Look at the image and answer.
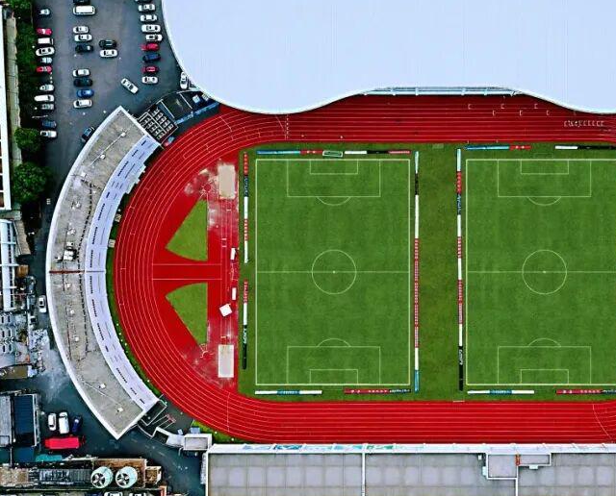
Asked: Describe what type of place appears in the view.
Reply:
sports ground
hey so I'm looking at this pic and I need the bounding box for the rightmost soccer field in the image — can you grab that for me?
[464,157,616,388]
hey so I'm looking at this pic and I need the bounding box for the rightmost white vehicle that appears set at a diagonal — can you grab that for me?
[121,78,138,94]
